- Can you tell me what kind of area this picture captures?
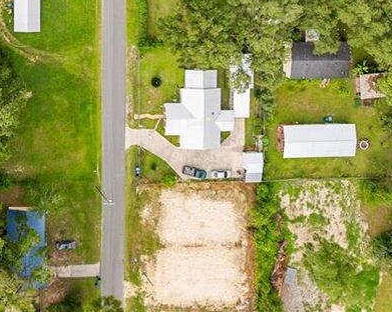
residential area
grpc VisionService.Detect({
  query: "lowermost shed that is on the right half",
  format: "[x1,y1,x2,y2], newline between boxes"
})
[239,148,263,181]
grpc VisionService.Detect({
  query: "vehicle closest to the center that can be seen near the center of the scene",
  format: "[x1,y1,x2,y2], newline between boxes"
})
[181,165,207,178]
